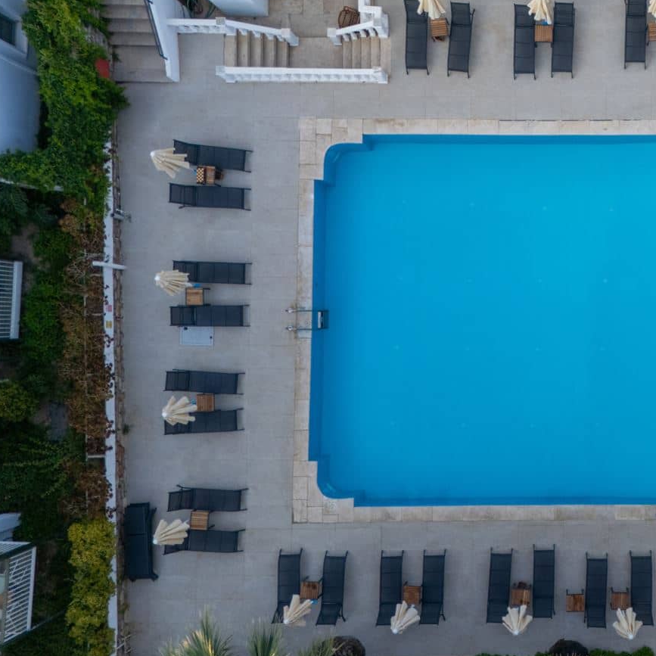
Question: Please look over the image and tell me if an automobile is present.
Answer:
No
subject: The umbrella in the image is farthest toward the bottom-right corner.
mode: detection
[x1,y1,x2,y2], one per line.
[616,606,641,638]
